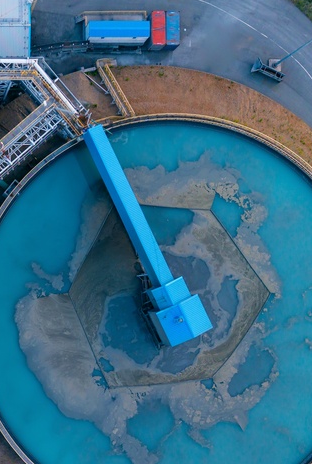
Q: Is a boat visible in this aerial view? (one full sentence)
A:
No, no boat is visible in the scene.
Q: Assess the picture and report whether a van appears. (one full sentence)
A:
No, no van can be seen from above.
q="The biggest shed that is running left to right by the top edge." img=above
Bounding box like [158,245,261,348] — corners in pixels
[84,21,151,44]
